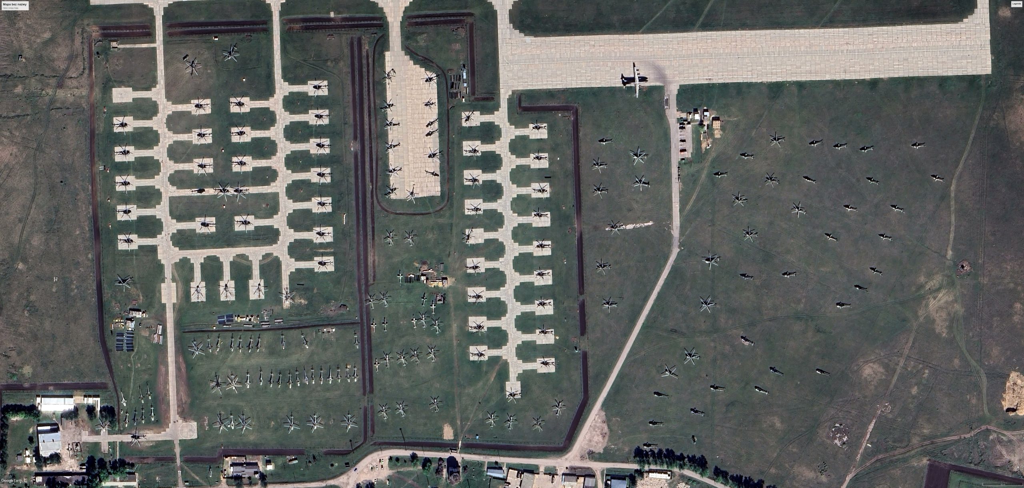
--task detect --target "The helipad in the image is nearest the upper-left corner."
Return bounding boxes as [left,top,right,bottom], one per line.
[112,87,132,103]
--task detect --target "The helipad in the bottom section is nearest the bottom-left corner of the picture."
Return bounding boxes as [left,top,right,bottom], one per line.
[178,422,197,440]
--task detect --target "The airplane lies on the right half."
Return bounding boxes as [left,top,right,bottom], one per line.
[621,67,648,97]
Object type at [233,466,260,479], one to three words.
house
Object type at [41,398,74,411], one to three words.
hangar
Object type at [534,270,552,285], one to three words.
helipad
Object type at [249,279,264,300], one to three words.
helipad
